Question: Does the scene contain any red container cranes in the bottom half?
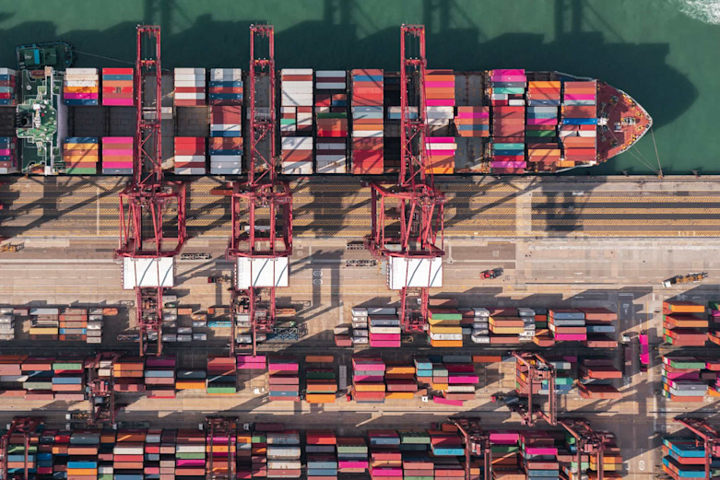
Yes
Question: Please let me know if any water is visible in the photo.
Yes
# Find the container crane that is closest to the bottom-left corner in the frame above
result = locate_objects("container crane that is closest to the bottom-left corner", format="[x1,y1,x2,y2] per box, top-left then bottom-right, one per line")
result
[0,416,41,480]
